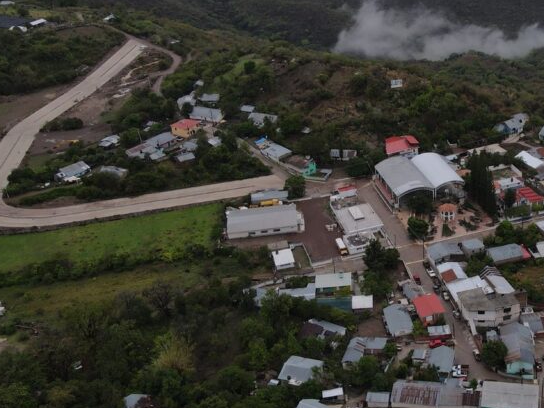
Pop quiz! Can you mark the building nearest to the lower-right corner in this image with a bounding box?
[479,380,540,408]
